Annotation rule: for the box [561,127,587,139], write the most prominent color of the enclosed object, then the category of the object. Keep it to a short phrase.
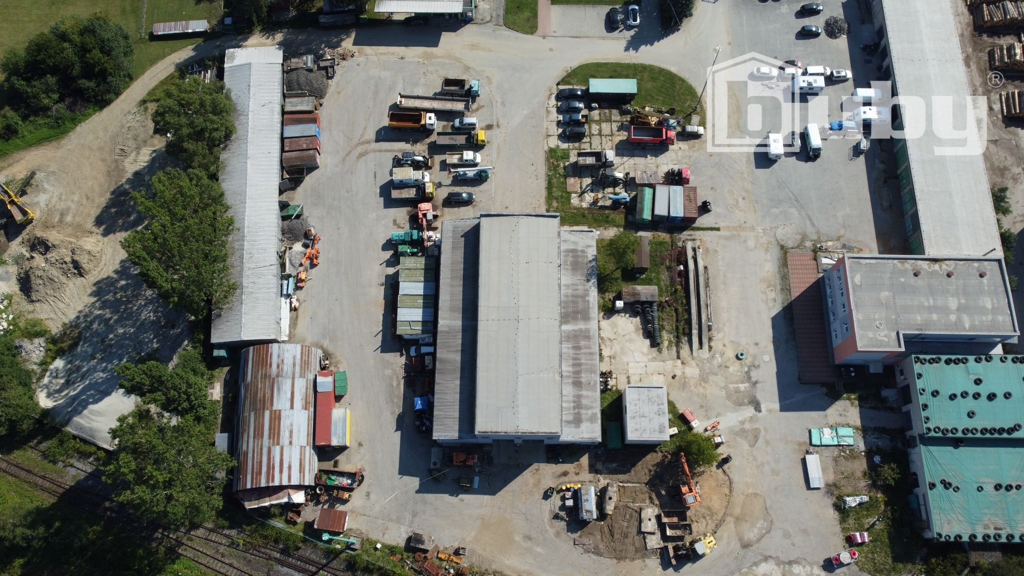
black vehicle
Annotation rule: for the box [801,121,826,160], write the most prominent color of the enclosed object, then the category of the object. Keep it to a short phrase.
white vehicle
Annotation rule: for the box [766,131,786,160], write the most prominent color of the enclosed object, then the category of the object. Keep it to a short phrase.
white camper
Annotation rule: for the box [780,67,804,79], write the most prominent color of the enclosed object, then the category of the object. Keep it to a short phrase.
white vehicle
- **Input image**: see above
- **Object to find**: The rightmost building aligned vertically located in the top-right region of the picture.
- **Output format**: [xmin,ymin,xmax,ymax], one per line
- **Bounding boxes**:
[868,0,1004,256]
